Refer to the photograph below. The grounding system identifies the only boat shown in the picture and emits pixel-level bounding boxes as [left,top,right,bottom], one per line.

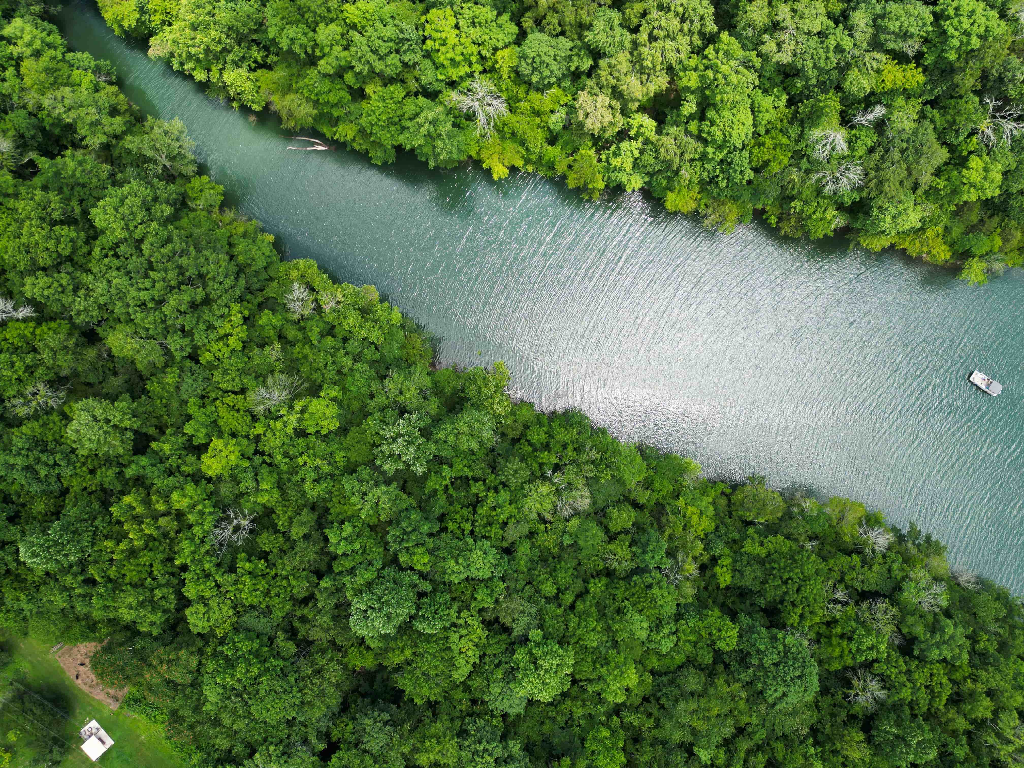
[968,370,1004,396]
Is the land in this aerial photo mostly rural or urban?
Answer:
rural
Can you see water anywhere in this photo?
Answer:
Yes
